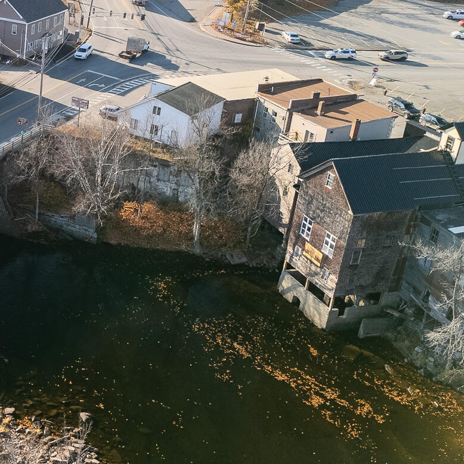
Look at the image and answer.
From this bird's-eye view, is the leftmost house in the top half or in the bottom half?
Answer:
top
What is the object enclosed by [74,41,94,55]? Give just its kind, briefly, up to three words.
car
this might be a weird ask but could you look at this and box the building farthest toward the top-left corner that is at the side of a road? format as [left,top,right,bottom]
[0,0,72,60]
